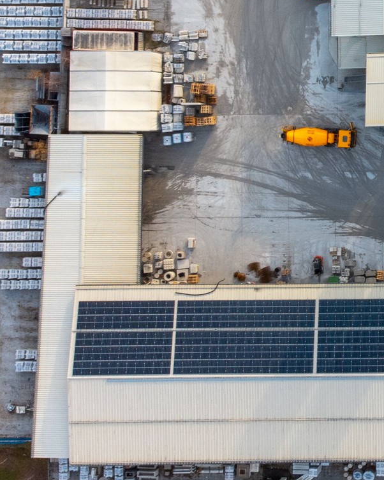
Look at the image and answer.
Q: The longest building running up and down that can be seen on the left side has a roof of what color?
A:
white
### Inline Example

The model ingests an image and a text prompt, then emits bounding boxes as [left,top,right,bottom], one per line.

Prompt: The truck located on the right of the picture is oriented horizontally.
[278,126,362,151]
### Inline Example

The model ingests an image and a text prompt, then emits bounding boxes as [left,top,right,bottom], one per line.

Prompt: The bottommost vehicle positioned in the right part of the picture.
[311,255,327,282]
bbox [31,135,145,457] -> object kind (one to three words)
building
